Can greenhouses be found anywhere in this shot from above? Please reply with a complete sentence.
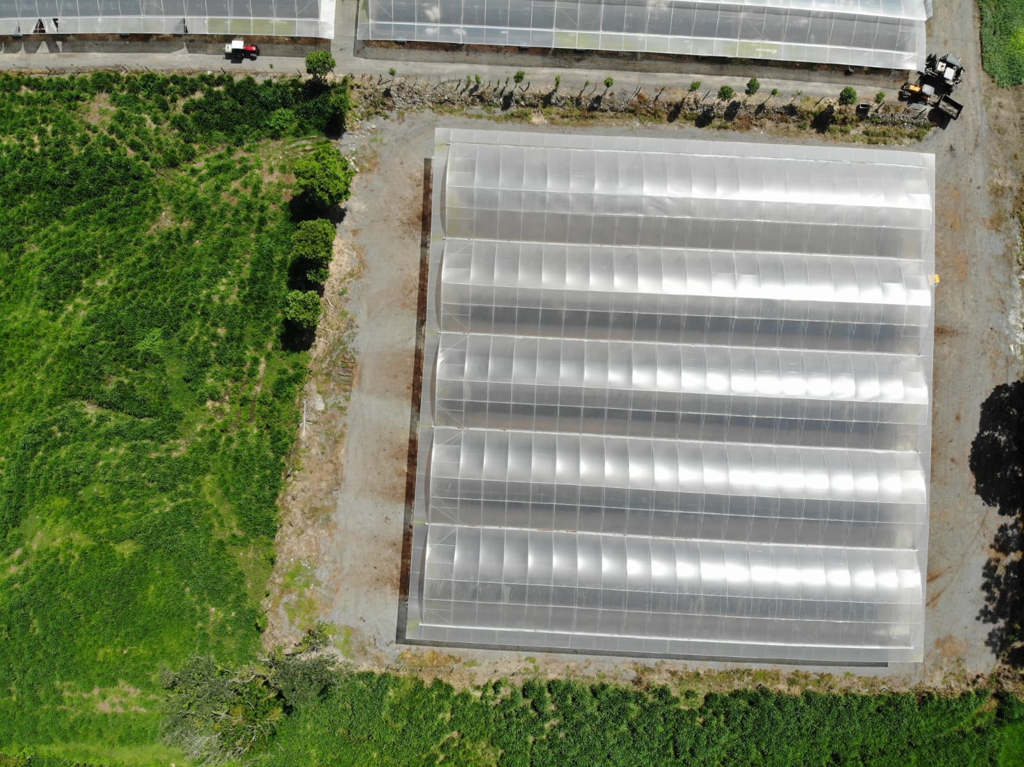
Yes, a greenhouse is visible in the scene.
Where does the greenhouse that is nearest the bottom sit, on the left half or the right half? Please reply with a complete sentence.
The greenhouse that is nearest the bottom appears in the right half of the scene.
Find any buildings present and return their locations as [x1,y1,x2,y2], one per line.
[359,0,925,71]
[406,128,935,663]
[0,0,339,38]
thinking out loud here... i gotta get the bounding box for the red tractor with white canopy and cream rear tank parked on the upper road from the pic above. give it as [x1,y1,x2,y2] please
[227,40,263,59]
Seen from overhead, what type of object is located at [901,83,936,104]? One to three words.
work vehicle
